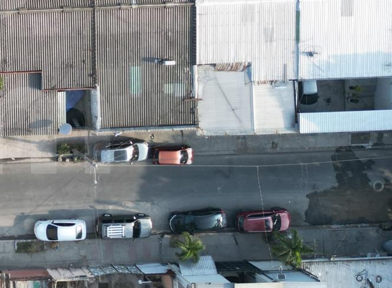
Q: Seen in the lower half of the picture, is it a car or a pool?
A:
car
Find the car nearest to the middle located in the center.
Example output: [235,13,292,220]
[151,145,192,168]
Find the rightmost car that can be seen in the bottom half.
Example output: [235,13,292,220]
[234,207,290,235]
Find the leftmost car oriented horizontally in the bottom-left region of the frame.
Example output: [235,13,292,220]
[34,218,87,244]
